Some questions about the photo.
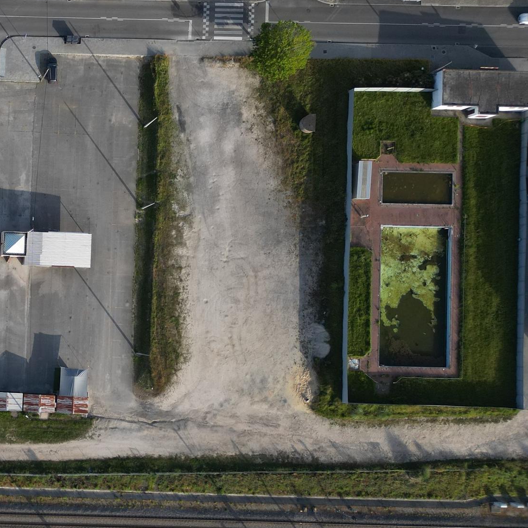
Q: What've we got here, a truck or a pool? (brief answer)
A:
pool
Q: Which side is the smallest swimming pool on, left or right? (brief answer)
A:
right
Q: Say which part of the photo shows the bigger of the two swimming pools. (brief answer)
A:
right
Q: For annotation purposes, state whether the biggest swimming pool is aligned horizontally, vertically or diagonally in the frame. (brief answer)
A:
vertically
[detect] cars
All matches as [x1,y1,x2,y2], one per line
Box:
[46,56,58,83]
[519,12,528,22]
